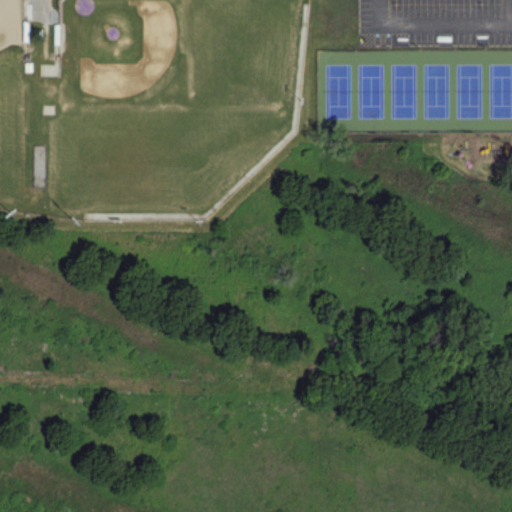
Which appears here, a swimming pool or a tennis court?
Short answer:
tennis court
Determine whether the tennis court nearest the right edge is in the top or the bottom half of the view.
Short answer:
top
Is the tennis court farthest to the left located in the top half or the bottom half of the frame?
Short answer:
top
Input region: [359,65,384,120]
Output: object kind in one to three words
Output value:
tennis court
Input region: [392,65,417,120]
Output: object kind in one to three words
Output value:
tennis court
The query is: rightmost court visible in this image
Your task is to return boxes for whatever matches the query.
[490,65,512,120]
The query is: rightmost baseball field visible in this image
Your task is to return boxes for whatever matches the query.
[60,0,303,214]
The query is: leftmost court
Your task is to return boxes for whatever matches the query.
[324,65,354,120]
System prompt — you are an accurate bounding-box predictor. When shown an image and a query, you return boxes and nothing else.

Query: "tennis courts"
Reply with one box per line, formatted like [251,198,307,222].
[324,65,354,120]
[424,65,450,120]
[490,65,512,120]
[359,65,384,120]
[392,65,417,120]
[457,65,482,120]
